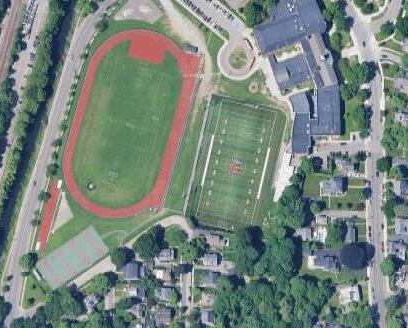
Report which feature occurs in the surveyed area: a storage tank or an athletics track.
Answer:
athletics track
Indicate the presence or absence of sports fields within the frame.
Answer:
Yes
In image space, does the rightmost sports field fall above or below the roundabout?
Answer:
below it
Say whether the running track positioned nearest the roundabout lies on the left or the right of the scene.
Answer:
left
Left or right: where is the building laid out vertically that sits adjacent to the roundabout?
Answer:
right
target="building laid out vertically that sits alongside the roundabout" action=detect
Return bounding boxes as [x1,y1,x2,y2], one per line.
[255,0,343,153]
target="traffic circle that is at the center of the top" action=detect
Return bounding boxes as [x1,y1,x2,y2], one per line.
[218,38,258,78]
